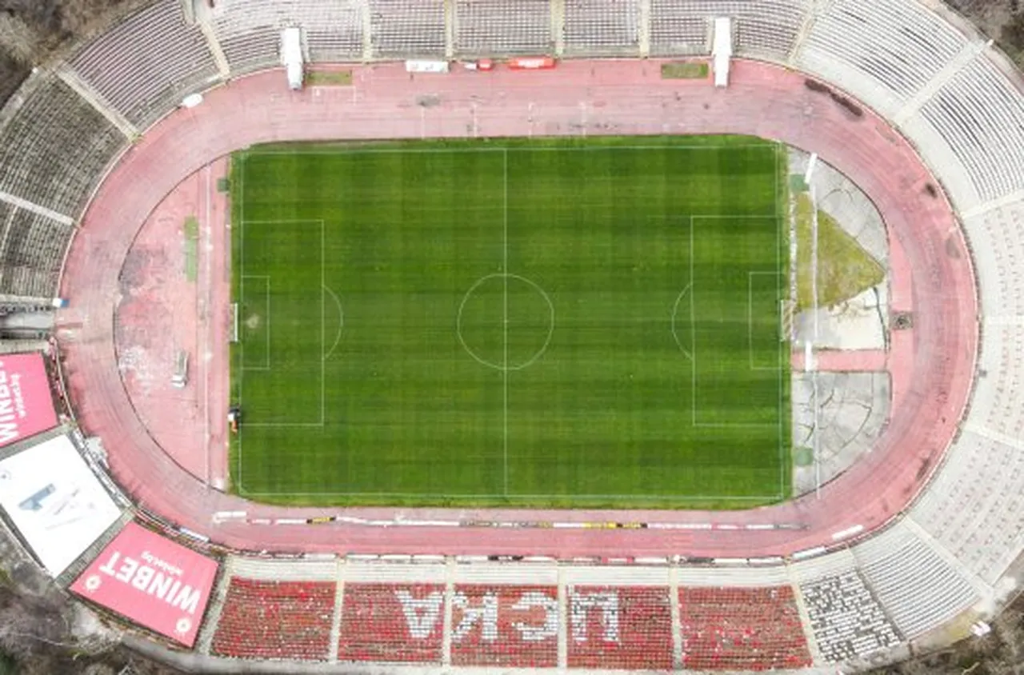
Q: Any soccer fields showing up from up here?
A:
Yes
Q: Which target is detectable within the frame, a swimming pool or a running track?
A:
running track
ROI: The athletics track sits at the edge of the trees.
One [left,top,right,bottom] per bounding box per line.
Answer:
[57,58,979,562]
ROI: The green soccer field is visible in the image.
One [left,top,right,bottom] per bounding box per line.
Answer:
[230,134,796,510]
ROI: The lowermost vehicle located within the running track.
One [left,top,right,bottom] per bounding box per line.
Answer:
[226,406,238,431]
